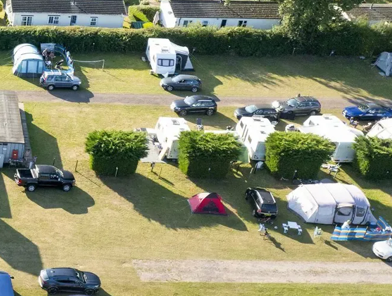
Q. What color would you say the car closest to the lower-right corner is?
white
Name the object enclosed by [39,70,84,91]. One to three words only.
car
